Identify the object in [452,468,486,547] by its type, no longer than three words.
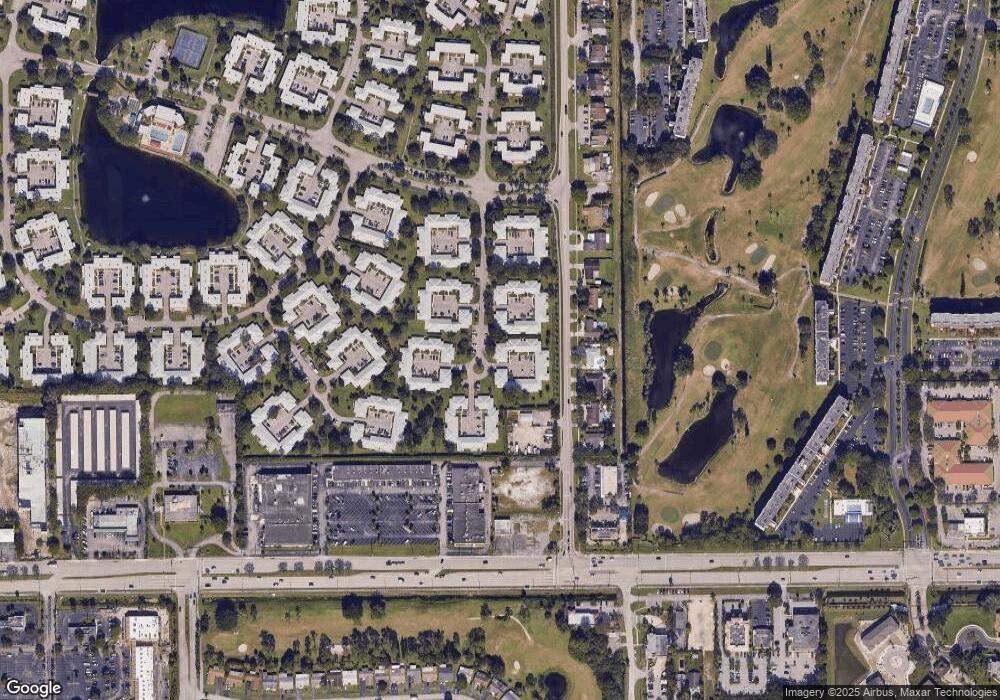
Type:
building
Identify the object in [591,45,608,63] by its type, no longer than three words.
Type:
house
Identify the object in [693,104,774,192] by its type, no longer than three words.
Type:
pond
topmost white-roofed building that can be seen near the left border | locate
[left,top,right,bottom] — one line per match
[27,0,87,36]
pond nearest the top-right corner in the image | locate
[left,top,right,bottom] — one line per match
[716,0,782,79]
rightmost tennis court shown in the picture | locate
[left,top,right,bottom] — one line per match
[170,26,207,69]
